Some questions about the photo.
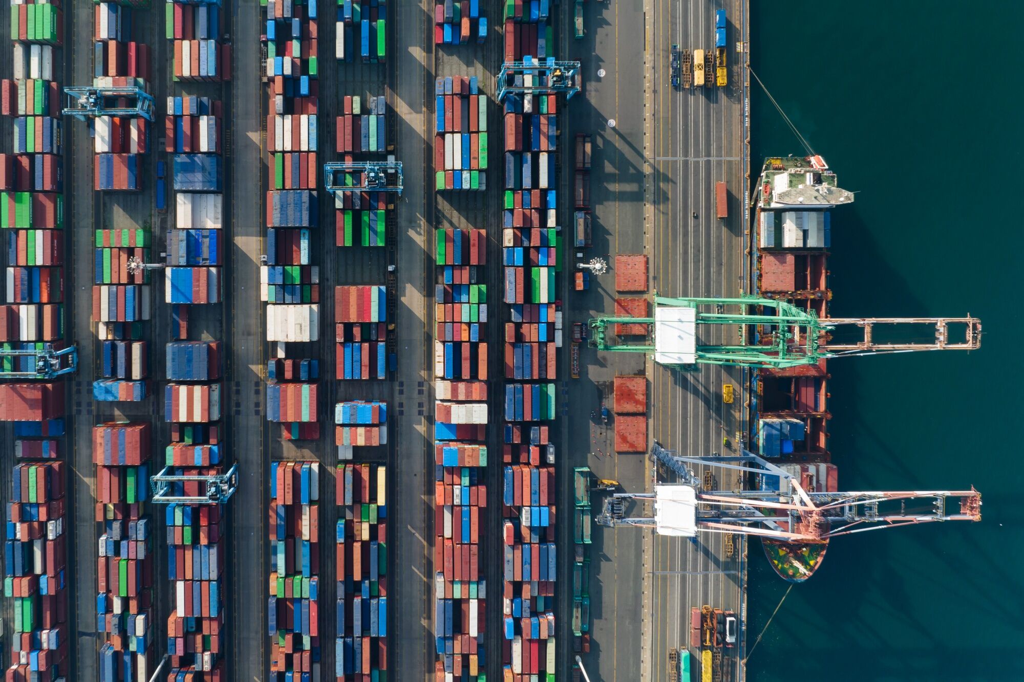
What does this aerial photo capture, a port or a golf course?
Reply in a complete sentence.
The area seen from above is a port.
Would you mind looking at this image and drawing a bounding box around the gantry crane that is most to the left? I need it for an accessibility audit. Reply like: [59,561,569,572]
[0,339,83,377]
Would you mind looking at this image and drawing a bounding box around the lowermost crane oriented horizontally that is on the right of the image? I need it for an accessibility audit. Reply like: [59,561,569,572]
[599,429,986,545]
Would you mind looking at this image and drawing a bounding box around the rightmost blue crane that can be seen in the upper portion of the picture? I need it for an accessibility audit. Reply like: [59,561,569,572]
[495,63,582,106]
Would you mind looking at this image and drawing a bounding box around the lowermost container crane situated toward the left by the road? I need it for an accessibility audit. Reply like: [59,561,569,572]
[151,456,242,505]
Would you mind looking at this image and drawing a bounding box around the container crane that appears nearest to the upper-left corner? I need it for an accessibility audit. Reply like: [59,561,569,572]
[62,91,160,126]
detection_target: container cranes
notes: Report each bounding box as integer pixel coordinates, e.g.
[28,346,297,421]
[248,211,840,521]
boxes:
[62,91,160,126]
[599,429,986,545]
[0,339,83,377]
[495,63,582,106]
[323,163,407,198]
[151,456,242,505]
[589,282,984,371]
